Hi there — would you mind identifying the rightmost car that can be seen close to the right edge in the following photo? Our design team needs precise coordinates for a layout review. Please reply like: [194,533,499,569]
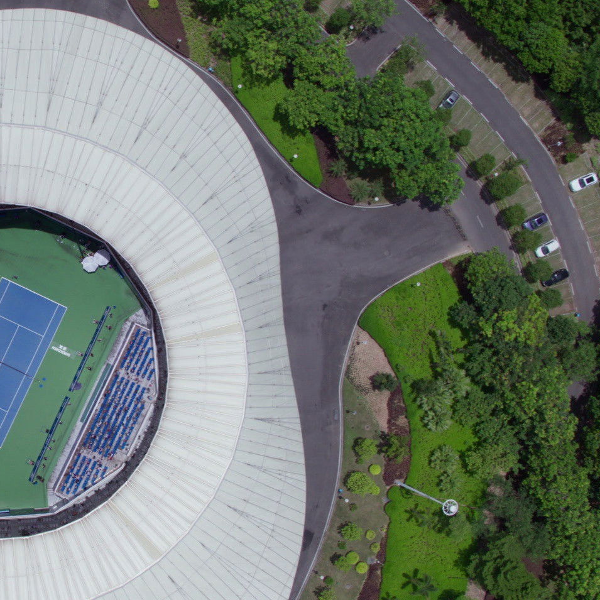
[568,171,599,192]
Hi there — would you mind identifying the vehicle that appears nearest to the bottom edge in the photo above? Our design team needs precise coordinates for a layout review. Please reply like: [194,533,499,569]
[541,268,571,288]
